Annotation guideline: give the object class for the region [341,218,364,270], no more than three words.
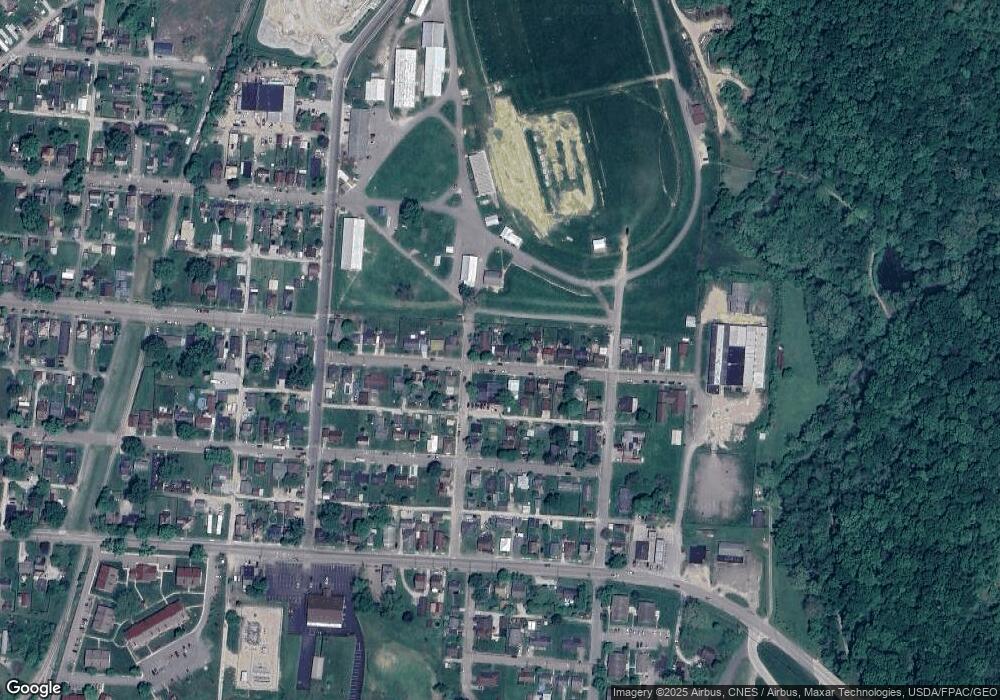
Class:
barn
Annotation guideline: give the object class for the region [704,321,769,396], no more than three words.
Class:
building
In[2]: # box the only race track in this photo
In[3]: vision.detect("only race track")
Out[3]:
[601,0,693,272]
